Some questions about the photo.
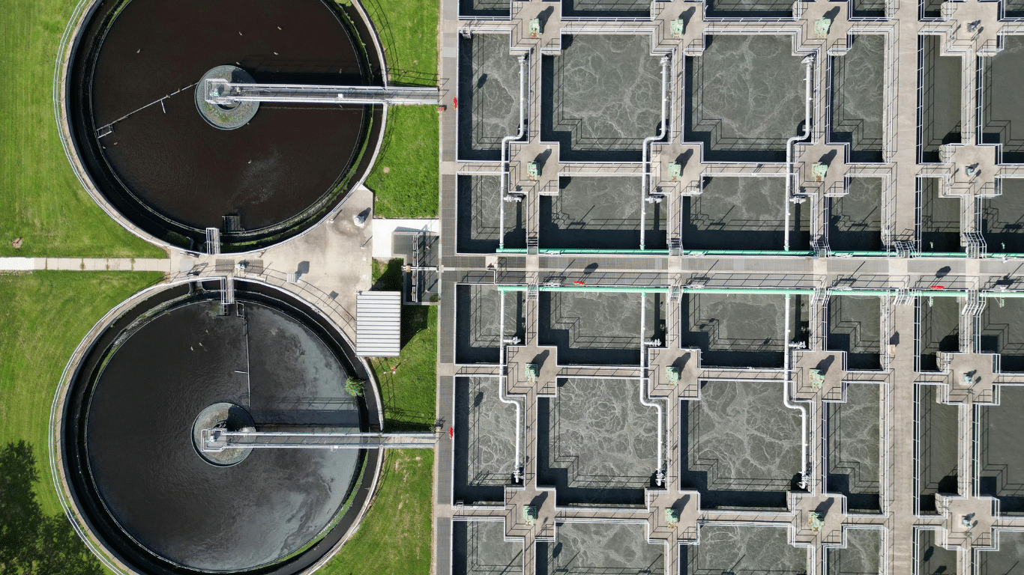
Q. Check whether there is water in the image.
Yes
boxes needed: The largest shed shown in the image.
[356,290,401,358]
